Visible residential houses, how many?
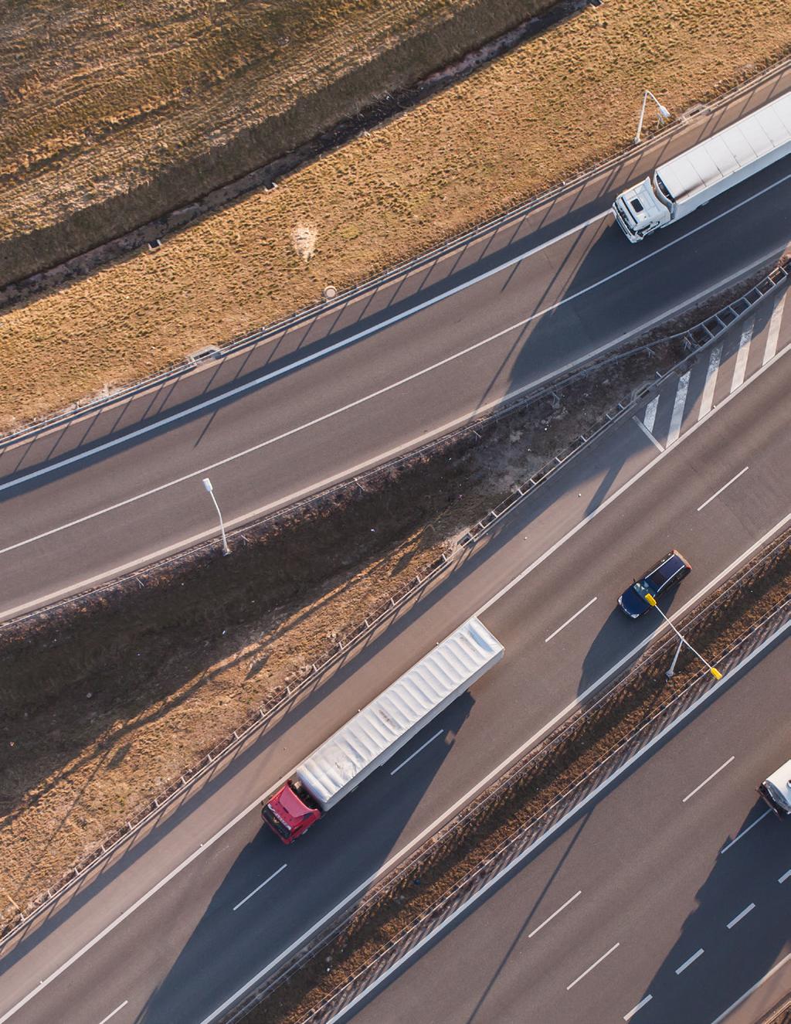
0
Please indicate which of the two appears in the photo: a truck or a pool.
truck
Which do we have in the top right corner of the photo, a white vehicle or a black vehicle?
white vehicle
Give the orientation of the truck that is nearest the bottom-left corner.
on a diagonal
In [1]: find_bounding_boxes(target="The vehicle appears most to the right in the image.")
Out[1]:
[756,756,791,820]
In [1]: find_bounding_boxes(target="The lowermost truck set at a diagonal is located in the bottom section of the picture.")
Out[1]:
[255,618,505,849]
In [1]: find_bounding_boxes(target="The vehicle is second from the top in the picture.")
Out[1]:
[617,549,692,617]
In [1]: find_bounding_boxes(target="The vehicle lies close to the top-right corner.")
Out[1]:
[611,94,791,246]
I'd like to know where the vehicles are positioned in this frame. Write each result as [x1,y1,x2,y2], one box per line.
[756,756,791,820]
[255,618,505,849]
[611,94,791,246]
[617,549,692,617]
